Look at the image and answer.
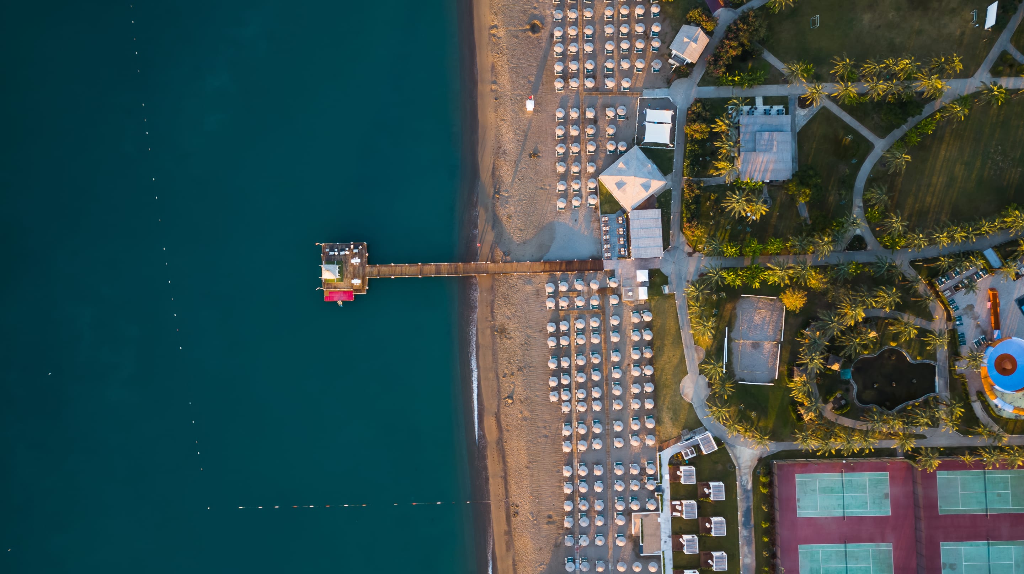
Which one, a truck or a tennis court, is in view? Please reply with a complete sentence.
It is a tennis court that can be seen here.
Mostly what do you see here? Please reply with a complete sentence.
The scene is dominated by water.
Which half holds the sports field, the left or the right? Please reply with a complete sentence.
It is on the right.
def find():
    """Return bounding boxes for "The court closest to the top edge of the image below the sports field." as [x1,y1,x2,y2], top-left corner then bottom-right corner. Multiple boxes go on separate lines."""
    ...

[731,297,785,383]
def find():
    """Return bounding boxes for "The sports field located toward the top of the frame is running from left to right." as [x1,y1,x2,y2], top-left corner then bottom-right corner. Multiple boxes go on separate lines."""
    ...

[751,0,1005,83]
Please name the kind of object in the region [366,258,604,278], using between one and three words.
pier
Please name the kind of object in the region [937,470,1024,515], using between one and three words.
tennis court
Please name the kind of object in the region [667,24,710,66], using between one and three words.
shed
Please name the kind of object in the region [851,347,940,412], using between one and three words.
pond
